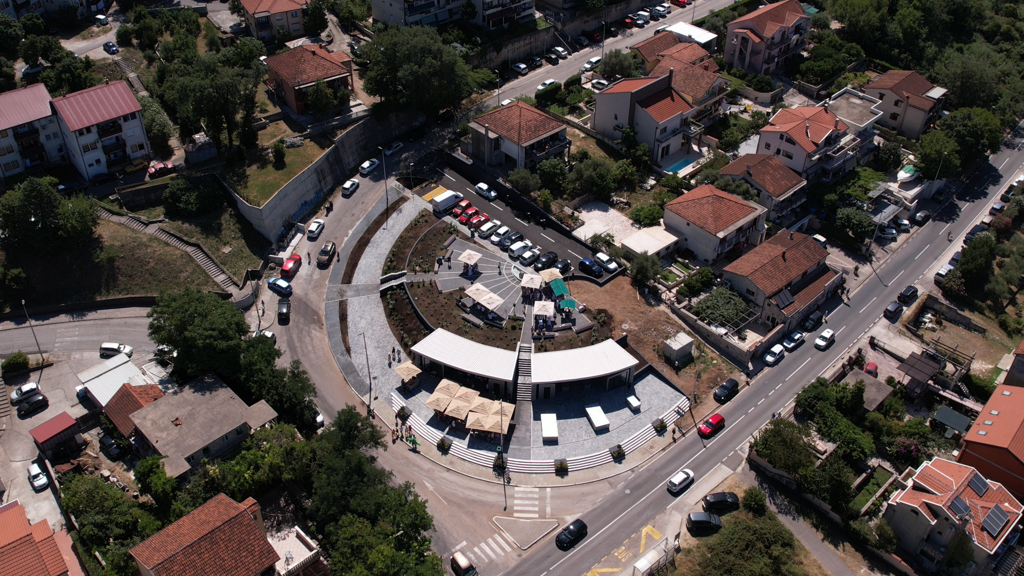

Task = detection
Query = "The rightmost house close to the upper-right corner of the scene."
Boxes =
[865,64,948,135]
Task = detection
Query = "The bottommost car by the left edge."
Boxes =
[25,461,50,492]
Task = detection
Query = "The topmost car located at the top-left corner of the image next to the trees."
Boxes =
[87,12,114,27]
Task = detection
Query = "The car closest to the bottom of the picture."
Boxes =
[447,545,478,576]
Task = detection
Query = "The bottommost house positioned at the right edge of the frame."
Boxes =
[880,453,1024,576]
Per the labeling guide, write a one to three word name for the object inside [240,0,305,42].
house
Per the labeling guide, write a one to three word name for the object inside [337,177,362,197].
car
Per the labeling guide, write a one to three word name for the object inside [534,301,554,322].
umbrella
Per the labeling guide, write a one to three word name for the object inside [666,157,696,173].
swimming pool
